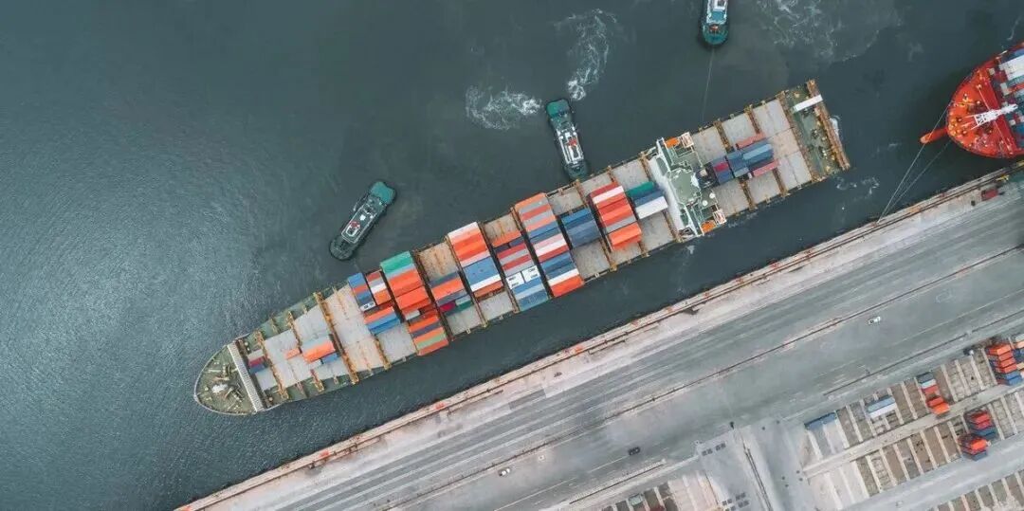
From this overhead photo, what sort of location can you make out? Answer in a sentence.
It's a port.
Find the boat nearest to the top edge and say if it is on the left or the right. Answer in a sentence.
The boat nearest to the top edge sits on the right side.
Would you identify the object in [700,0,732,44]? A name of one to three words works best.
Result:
boat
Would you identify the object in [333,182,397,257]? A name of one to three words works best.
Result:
boat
